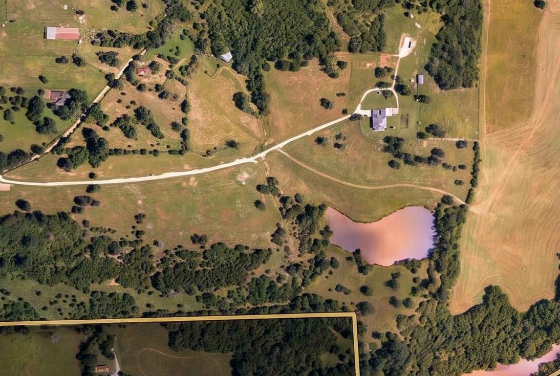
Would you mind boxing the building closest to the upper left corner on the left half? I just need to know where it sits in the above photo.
[45,27,78,39]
